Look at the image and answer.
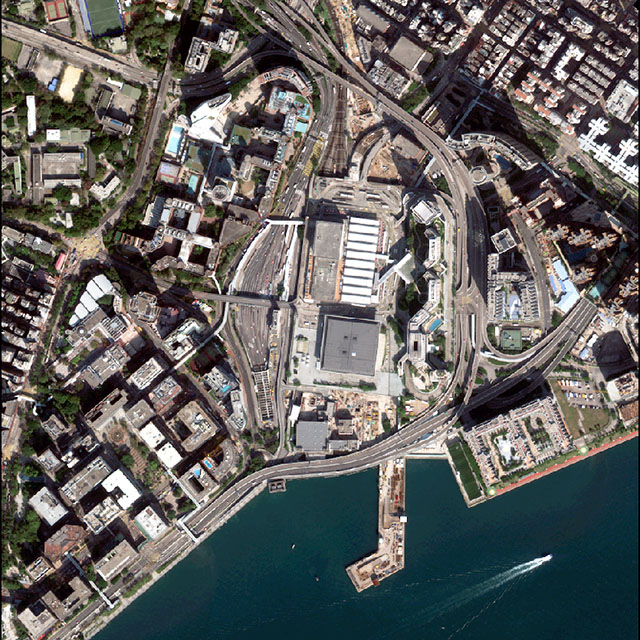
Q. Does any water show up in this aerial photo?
Yes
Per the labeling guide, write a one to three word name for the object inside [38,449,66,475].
building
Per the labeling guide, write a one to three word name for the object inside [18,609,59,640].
building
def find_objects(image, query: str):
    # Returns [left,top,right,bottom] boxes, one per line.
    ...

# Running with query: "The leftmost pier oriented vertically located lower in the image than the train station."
[345,454,406,591]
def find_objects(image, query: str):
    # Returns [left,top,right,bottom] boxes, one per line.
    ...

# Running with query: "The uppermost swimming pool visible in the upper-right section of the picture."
[494,153,511,169]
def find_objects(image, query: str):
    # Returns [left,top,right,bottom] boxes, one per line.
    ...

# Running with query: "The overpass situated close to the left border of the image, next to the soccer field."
[0,22,161,88]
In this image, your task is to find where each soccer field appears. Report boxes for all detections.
[88,0,123,39]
